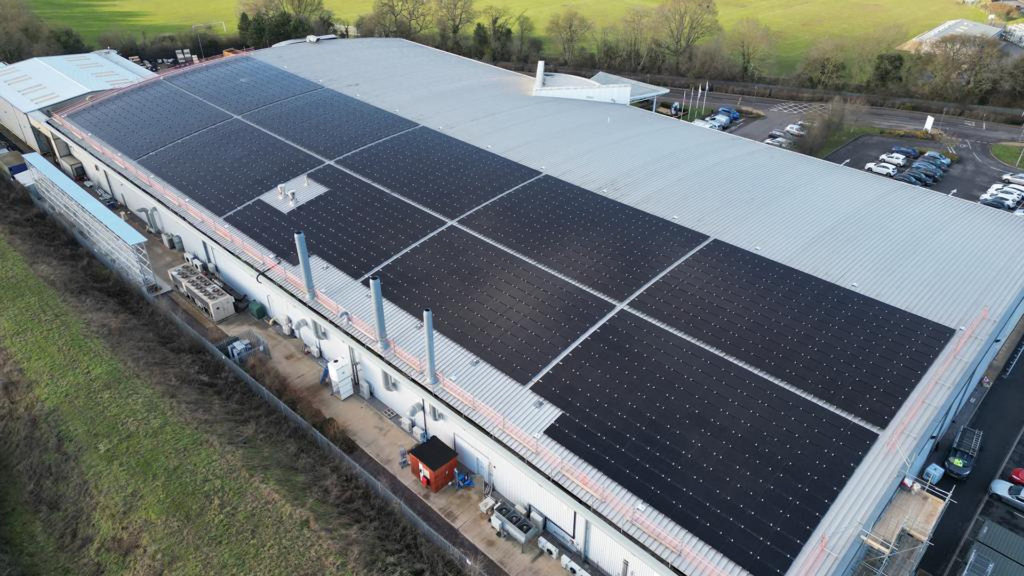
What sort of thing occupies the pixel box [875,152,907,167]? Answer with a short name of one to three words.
car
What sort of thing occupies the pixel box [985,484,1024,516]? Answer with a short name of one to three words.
car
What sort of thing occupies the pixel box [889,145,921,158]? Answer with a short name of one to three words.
vehicle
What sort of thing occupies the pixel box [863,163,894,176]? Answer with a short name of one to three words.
vehicle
